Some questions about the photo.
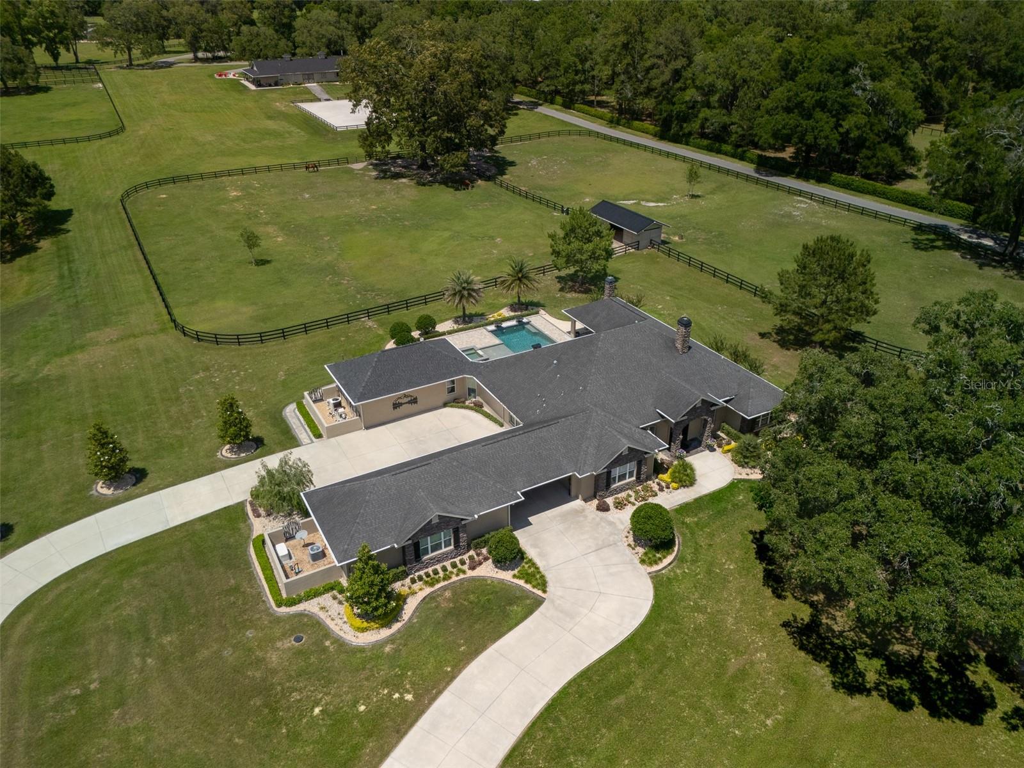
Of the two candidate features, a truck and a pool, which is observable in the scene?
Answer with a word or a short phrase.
pool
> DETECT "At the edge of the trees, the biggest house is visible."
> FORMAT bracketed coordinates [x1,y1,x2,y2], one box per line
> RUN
[299,274,799,583]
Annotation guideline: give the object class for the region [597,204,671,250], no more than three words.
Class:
shed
